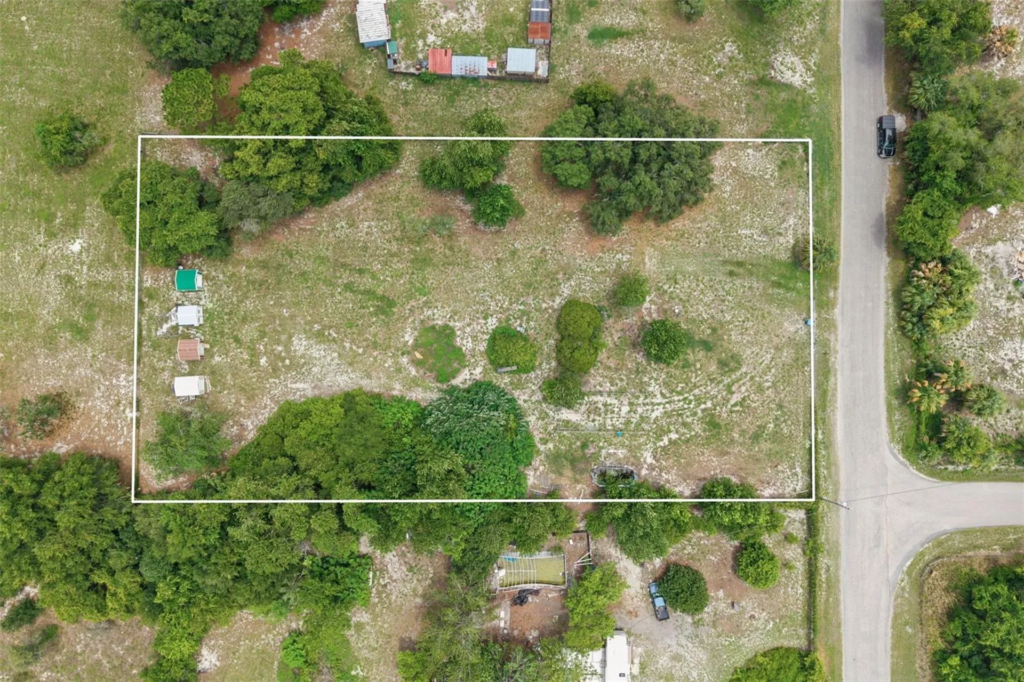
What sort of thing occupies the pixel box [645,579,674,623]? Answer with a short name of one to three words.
truck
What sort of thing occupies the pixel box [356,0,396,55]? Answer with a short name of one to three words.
shed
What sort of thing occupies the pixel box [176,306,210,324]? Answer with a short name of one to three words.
shed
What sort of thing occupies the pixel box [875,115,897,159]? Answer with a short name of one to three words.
truck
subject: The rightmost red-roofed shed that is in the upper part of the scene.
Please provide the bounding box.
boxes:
[529,22,552,45]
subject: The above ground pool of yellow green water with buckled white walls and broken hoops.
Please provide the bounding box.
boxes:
[497,551,567,589]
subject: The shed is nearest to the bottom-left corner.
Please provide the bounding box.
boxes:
[174,376,211,397]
